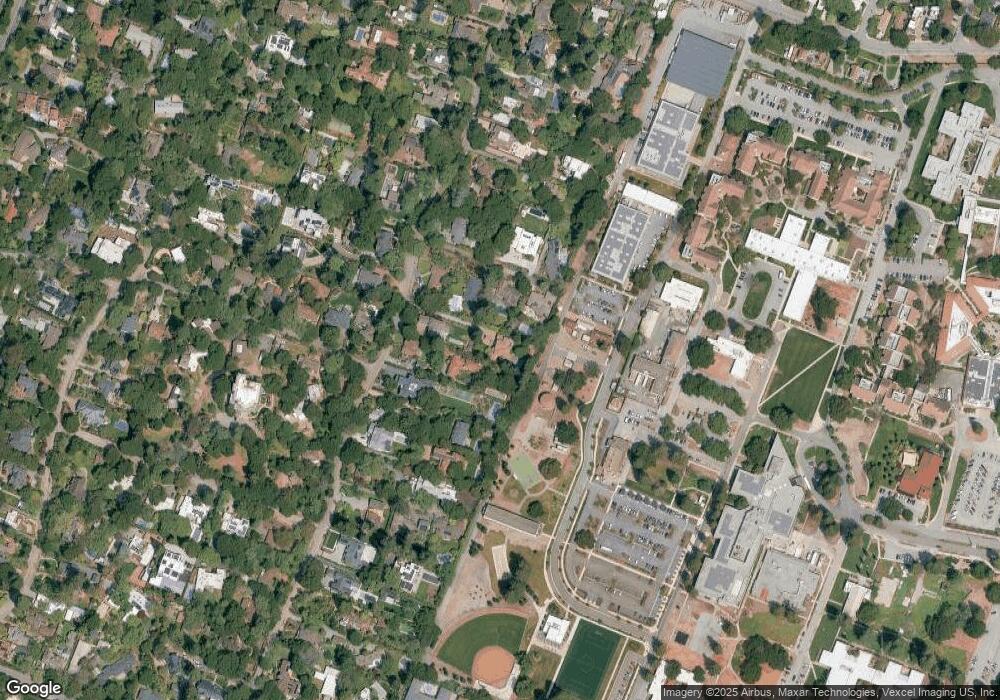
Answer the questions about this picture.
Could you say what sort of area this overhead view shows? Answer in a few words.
residential area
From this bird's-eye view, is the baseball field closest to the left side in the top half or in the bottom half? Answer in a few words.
bottom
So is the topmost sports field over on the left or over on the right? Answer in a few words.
right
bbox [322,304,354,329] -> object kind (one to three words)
house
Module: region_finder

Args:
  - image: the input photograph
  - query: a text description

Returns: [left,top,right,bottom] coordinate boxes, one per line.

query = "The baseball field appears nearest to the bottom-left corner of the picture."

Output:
[432,606,536,700]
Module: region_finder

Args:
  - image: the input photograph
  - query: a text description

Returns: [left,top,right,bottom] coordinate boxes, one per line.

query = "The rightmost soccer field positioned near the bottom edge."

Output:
[551,618,620,700]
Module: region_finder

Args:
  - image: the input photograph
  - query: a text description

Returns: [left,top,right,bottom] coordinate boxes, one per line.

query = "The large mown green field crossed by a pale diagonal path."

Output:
[759,329,838,423]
